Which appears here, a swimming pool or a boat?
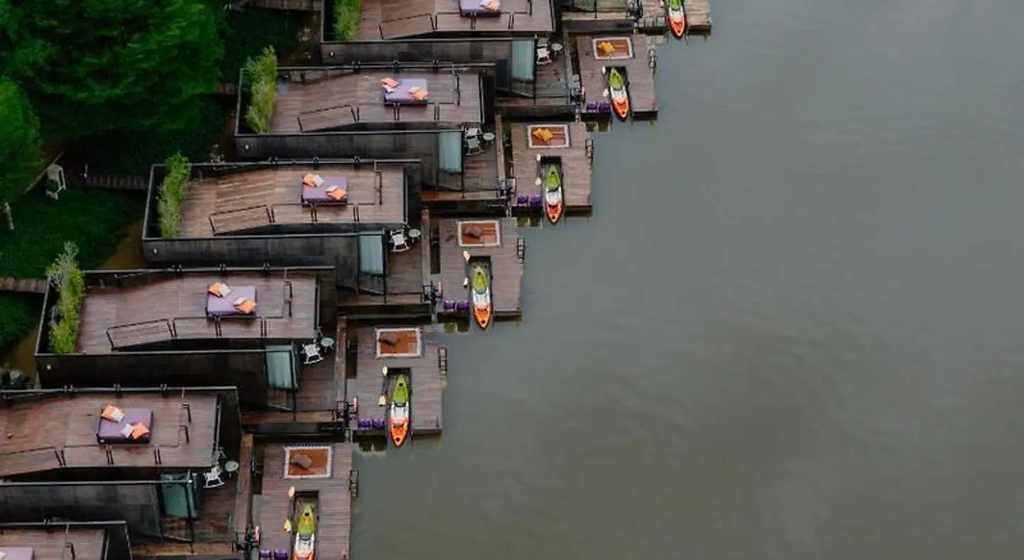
boat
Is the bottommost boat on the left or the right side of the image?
left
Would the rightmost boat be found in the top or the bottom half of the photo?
top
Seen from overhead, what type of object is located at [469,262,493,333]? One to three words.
boat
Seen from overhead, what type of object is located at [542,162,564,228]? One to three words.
boat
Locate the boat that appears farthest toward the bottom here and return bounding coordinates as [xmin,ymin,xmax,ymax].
[292,498,318,560]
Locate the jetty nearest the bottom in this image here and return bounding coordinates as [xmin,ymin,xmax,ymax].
[249,442,350,560]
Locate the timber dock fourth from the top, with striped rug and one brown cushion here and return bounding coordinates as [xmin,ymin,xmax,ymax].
[431,217,522,322]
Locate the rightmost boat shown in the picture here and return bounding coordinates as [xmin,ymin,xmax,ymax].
[665,0,686,40]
